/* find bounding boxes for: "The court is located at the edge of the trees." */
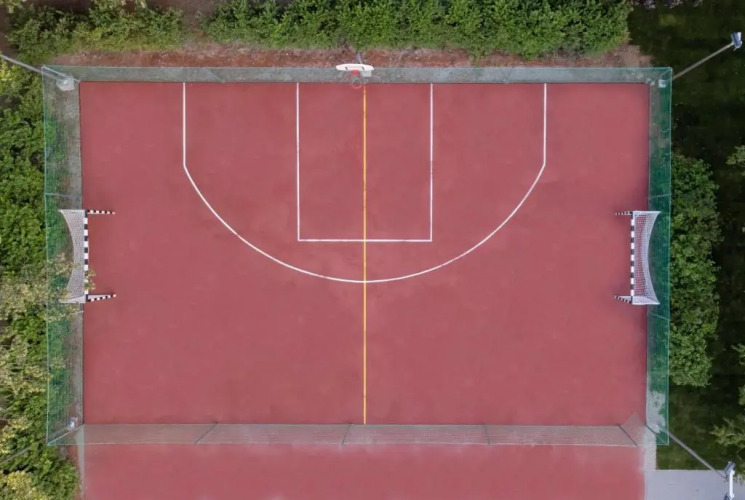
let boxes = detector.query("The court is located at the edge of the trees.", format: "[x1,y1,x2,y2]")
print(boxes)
[80,82,649,500]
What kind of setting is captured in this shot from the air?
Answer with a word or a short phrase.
sports ground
